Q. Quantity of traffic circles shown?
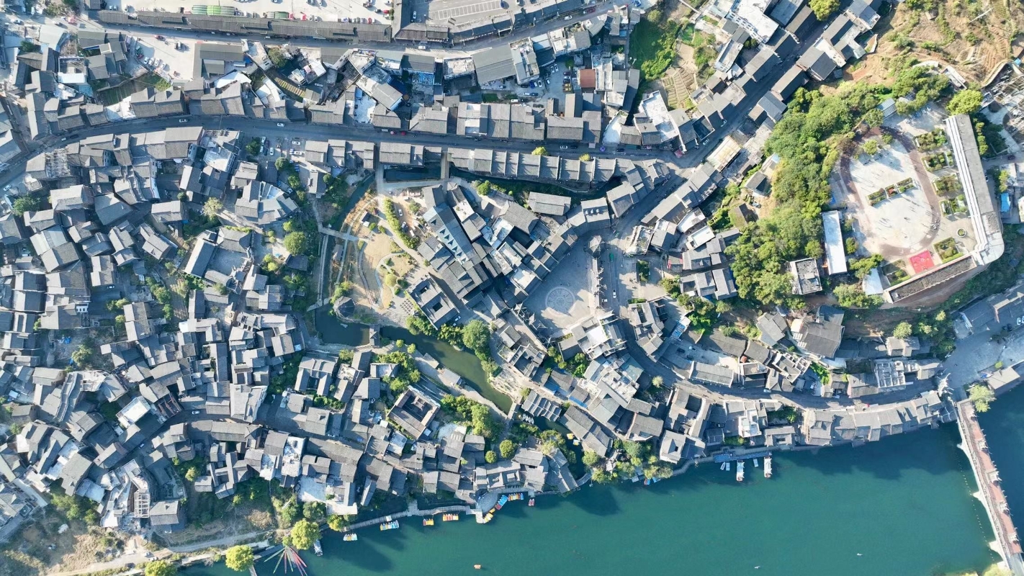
0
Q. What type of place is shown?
residential area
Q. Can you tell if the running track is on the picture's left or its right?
right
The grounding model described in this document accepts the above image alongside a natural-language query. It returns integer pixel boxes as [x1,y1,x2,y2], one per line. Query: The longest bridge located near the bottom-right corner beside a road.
[954,387,1021,569]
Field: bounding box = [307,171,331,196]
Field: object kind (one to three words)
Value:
house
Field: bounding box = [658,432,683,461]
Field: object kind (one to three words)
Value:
house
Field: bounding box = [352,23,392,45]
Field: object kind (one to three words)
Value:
building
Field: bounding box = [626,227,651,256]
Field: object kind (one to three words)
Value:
building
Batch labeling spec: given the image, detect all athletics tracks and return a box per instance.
[841,127,939,255]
